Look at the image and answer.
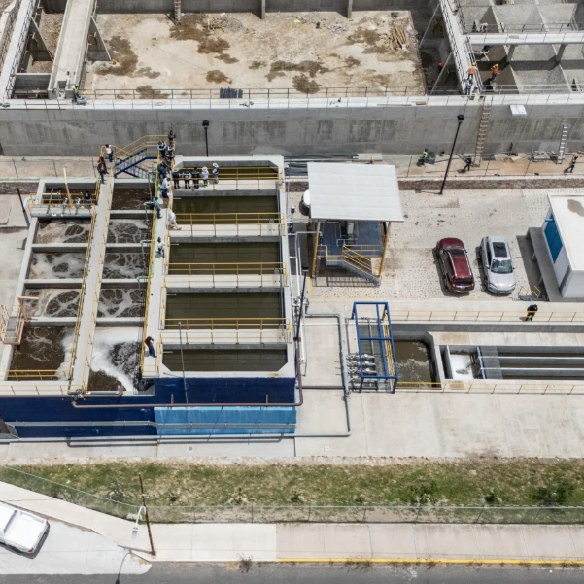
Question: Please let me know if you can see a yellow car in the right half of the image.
No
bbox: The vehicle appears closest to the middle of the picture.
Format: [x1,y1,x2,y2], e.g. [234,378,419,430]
[438,238,478,298]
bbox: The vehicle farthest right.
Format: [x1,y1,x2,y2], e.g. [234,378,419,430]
[481,236,524,296]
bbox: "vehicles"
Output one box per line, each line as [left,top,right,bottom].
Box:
[438,238,478,298]
[481,236,524,296]
[0,507,48,560]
